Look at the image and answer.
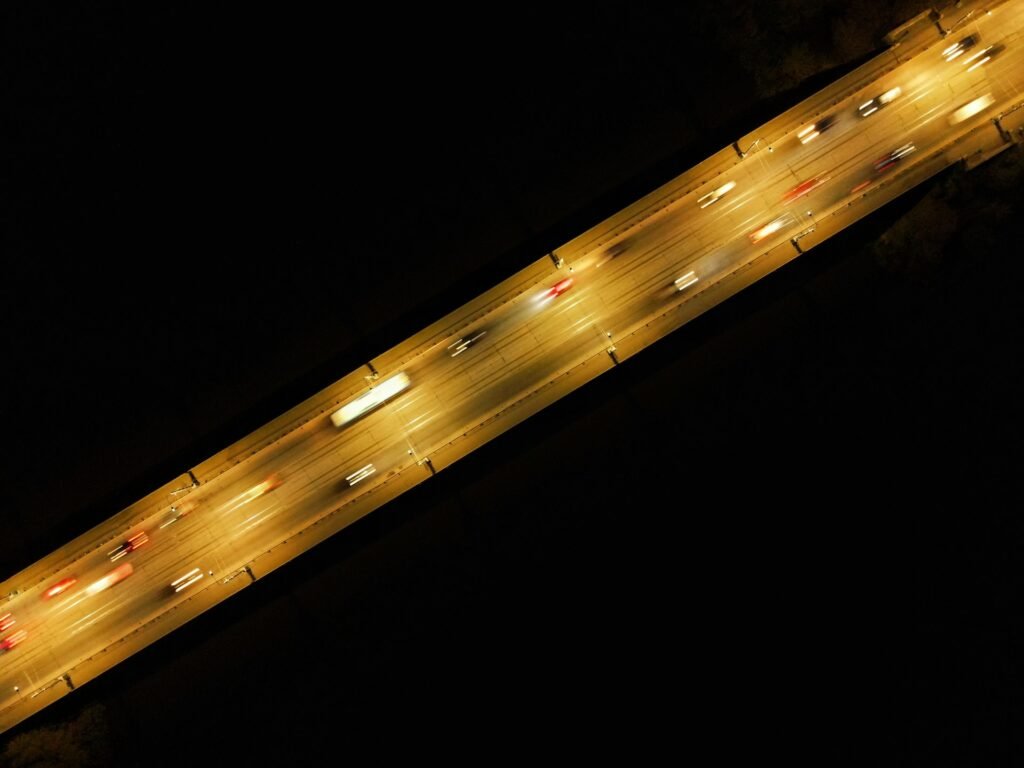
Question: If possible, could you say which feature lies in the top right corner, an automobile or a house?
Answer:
automobile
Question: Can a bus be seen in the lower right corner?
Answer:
No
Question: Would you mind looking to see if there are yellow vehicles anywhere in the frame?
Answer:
Yes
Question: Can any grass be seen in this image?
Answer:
No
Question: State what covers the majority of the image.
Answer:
water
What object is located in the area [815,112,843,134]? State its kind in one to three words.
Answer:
car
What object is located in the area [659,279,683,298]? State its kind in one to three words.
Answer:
car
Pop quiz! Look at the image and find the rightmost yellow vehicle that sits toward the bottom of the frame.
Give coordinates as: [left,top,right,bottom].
[249,479,273,498]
